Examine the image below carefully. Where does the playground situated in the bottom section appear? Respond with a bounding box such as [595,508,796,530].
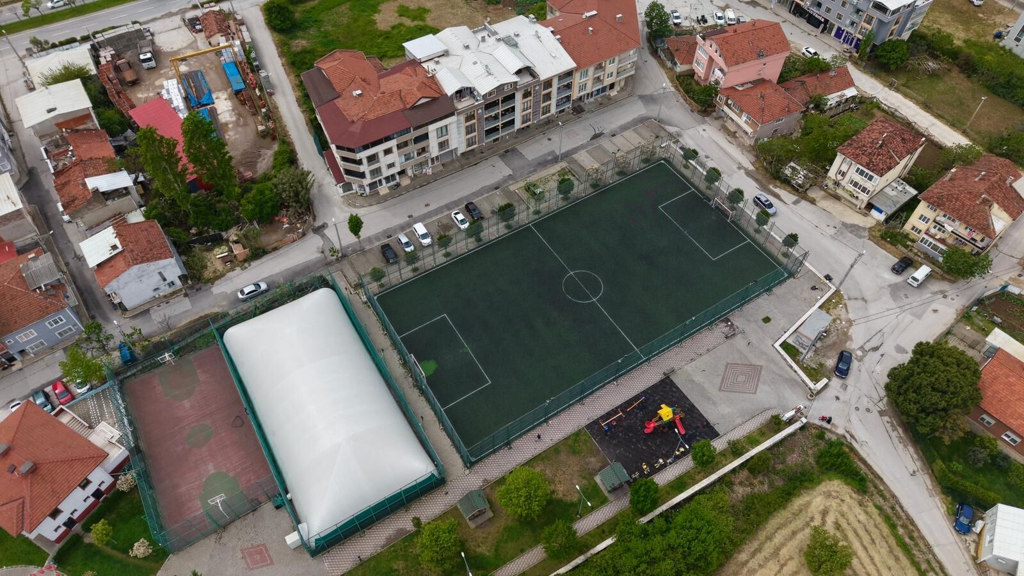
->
[587,378,719,488]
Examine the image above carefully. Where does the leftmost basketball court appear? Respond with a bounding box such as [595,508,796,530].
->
[126,350,278,547]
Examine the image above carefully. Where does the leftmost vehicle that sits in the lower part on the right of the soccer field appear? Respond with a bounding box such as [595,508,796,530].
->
[834,349,852,378]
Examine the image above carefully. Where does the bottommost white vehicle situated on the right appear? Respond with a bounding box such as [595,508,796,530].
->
[907,262,933,287]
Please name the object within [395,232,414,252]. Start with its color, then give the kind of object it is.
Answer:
white car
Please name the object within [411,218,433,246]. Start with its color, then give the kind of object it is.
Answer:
white vehicle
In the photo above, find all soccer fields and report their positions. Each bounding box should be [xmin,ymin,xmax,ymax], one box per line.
[368,156,794,465]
